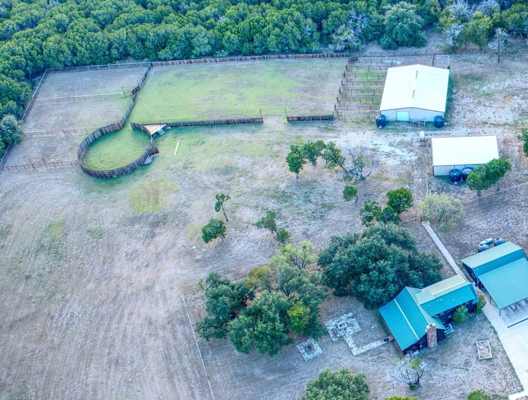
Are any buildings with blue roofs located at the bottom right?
Yes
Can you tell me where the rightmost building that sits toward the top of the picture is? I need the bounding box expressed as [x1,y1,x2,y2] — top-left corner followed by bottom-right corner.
[433,136,499,174]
